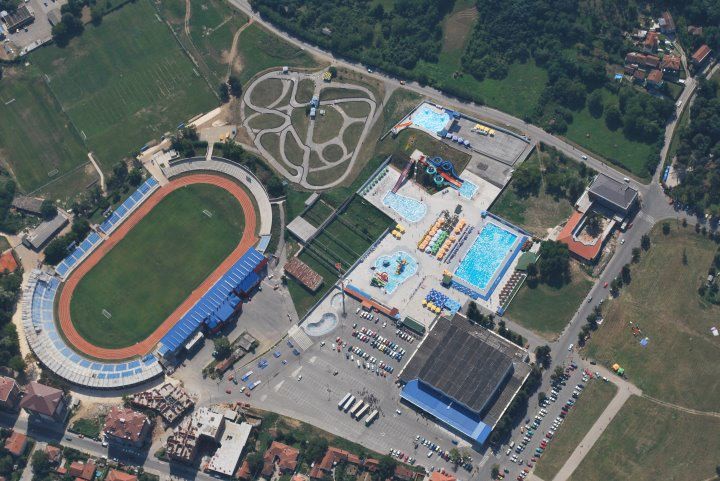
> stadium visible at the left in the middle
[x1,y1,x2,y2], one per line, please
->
[24,155,273,391]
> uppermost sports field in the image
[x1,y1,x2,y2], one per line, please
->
[37,4,170,98]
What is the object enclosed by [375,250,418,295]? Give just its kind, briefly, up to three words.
swimming pool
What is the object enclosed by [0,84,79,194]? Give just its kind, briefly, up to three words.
sports field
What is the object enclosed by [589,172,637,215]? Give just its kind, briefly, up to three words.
building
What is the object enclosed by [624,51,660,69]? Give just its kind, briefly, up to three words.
house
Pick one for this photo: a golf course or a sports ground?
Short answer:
sports ground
